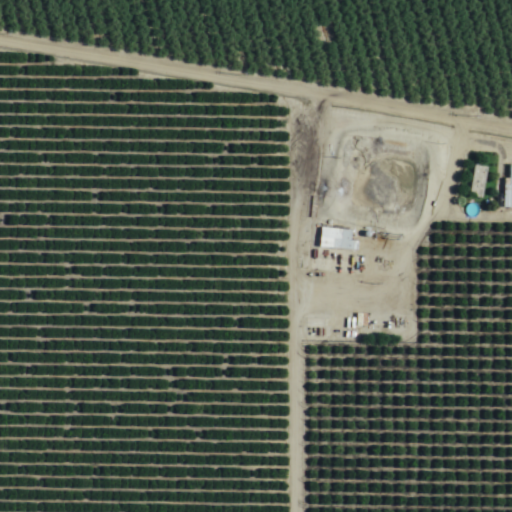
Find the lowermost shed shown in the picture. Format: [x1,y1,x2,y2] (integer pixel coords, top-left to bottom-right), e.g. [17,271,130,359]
[321,227,359,250]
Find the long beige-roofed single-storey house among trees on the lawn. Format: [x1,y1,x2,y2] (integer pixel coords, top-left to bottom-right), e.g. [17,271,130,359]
[473,164,490,196]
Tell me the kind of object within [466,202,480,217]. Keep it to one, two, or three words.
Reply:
swimming pool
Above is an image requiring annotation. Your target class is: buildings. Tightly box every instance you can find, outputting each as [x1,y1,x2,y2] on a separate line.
[473,164,490,196]
[321,227,359,250]
[505,176,512,206]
